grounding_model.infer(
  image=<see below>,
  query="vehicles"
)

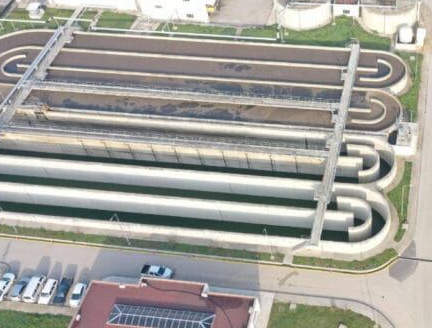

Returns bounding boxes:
[21,274,49,302]
[69,282,89,307]
[140,264,175,279]
[53,275,78,306]
[0,270,16,300]
[10,276,32,301]
[38,276,61,305]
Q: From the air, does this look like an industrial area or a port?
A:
industrial area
